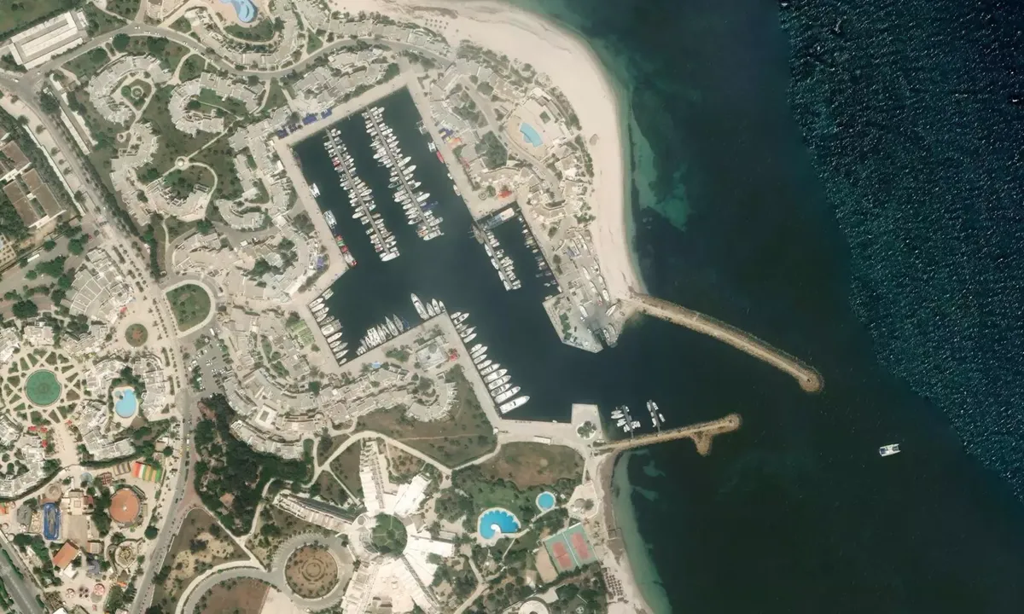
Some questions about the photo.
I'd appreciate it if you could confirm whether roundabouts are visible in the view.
Yes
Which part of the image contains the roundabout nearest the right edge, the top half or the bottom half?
bottom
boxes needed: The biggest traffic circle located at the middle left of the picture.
[167,283,212,338]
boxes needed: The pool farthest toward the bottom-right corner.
[536,492,556,512]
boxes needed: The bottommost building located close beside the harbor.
[273,441,455,614]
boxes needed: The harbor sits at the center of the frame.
[283,74,602,460]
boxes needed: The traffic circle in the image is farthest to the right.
[273,531,352,609]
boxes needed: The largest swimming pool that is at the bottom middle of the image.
[477,508,521,541]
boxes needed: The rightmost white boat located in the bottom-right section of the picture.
[878,443,900,457]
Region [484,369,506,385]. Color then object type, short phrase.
white boat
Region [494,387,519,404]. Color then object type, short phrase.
white boat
